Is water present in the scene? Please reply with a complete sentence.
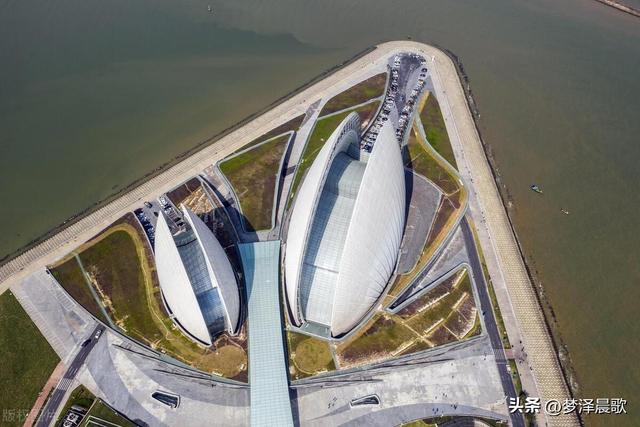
Yes, some water is visible.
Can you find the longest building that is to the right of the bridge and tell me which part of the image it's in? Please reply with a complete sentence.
The longest building that is to the right of the bridge sits in the center section of the image.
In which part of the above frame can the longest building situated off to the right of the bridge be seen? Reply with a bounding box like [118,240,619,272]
[281,112,408,341]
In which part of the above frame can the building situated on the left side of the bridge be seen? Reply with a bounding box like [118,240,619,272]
[149,204,247,351]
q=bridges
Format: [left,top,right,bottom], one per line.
[239,241,294,427]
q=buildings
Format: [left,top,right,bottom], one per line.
[149,204,247,351]
[281,112,408,341]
